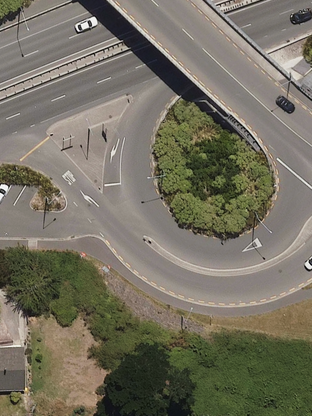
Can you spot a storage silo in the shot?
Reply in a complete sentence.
No, no storage silo is visible in the view.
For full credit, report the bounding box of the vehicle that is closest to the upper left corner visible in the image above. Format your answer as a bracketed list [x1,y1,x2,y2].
[74,18,98,34]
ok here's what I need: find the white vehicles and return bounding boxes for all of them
[303,254,312,270]
[0,184,8,206]
[74,18,98,34]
